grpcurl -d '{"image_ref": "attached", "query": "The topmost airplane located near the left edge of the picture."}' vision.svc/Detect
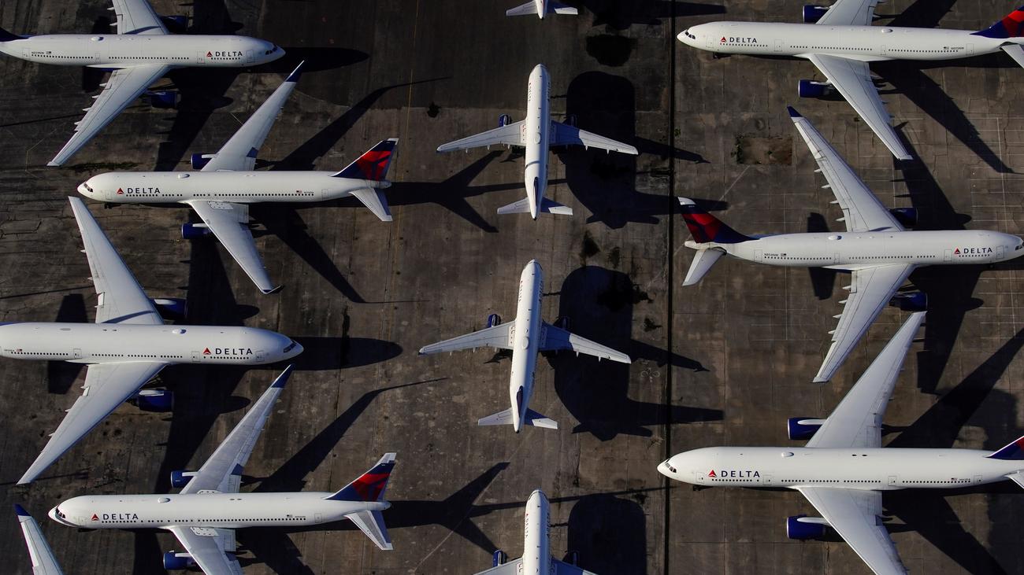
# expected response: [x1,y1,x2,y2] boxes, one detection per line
[0,0,285,165]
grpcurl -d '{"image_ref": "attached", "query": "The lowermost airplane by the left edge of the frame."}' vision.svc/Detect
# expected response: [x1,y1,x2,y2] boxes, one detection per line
[13,504,66,575]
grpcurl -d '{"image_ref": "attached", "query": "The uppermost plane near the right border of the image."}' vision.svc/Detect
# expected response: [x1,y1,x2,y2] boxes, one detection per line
[677,0,1024,158]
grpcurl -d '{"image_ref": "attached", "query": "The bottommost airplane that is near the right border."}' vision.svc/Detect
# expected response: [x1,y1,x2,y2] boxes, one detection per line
[657,312,1024,575]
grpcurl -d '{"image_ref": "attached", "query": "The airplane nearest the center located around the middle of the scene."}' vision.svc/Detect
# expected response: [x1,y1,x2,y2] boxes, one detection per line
[420,261,630,433]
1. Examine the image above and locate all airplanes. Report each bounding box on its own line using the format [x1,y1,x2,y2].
[657,312,1024,575]
[78,63,397,295]
[470,490,607,575]
[437,65,636,219]
[507,0,577,18]
[420,261,630,433]
[0,0,285,165]
[49,366,395,575]
[678,103,1024,381]
[13,504,66,575]
[677,0,1024,158]
[0,195,303,487]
